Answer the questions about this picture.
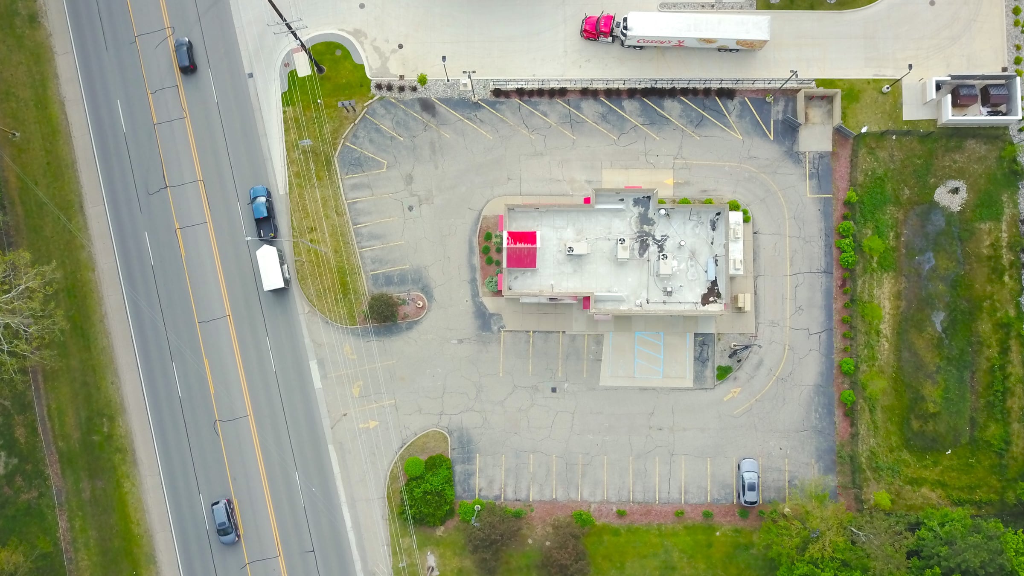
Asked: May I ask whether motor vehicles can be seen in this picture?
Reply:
Yes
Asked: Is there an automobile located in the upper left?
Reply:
Yes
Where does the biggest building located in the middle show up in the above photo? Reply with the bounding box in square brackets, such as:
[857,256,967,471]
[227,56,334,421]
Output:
[498,187,729,319]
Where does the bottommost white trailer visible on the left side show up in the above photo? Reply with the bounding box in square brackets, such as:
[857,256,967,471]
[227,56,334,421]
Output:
[256,241,291,293]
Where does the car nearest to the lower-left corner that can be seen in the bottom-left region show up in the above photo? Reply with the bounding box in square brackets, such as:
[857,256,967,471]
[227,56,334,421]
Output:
[211,495,239,545]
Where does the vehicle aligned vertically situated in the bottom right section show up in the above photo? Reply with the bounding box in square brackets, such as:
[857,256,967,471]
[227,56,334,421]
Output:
[738,458,761,507]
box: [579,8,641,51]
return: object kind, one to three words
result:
vehicle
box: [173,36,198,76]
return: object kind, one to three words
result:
car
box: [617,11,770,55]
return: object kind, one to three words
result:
trailer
